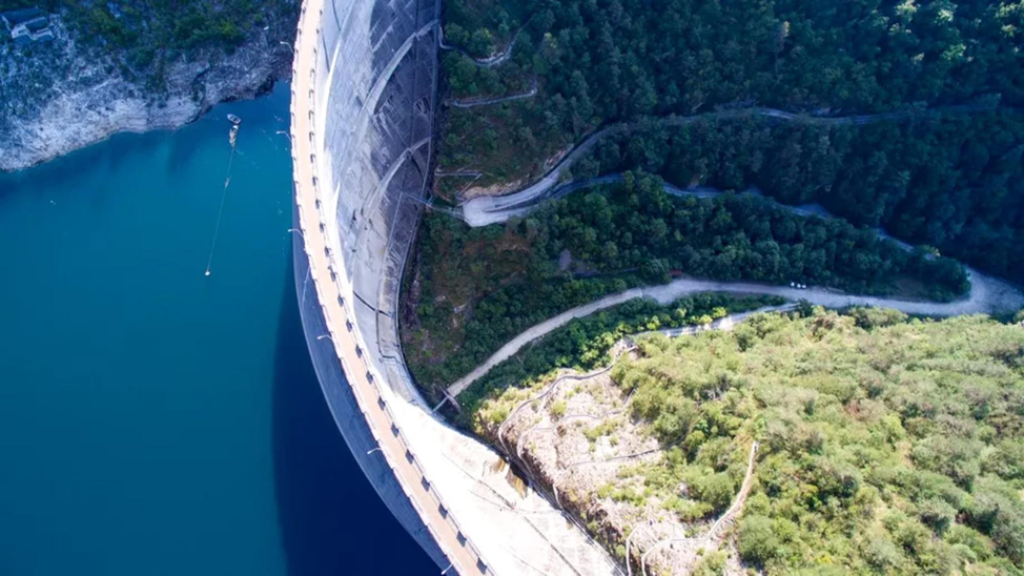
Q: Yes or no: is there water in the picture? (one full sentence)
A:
Yes, some water is visible.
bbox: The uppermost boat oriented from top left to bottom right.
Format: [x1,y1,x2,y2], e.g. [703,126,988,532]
[228,114,242,127]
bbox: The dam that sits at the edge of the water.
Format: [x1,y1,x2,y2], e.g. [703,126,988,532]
[288,0,633,576]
